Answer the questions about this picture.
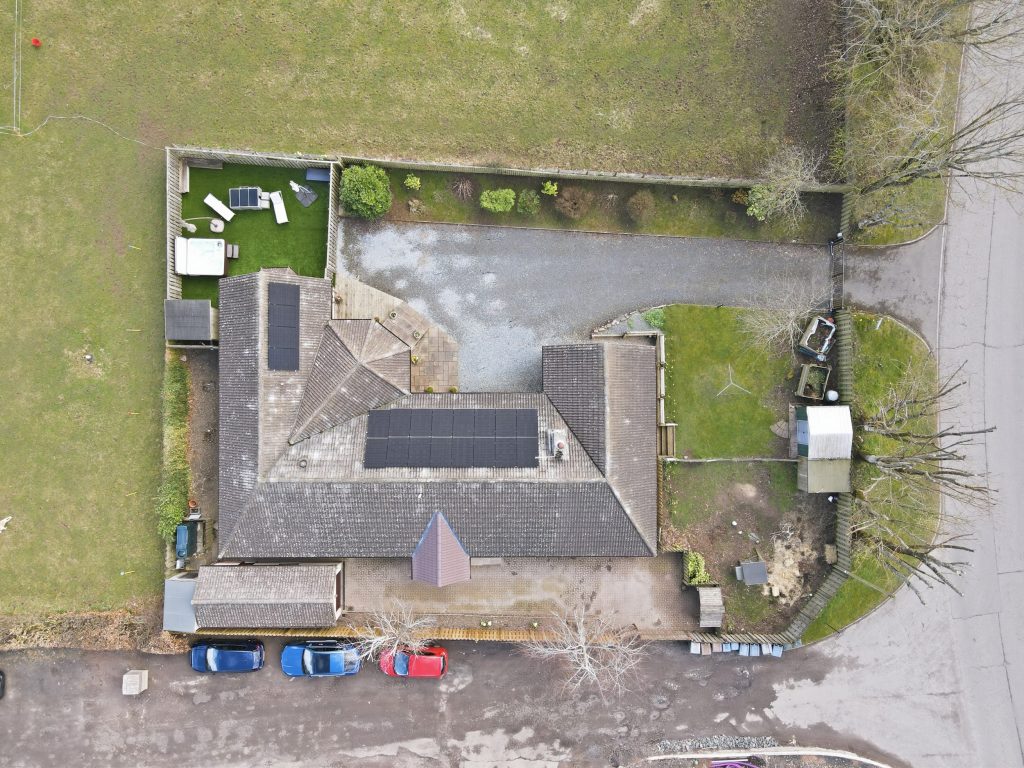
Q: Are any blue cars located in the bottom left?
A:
Yes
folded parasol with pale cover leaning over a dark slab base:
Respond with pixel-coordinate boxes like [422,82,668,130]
[290,180,318,206]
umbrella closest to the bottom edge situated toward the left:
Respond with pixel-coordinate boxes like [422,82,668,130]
[185,217,223,233]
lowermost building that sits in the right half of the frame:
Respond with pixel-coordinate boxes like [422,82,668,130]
[698,587,725,628]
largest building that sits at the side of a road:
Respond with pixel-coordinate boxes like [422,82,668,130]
[218,265,657,588]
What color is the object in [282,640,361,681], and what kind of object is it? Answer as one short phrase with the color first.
blue car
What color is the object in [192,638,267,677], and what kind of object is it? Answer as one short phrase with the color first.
blue car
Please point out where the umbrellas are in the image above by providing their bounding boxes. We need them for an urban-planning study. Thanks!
[290,180,318,206]
[185,217,223,233]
